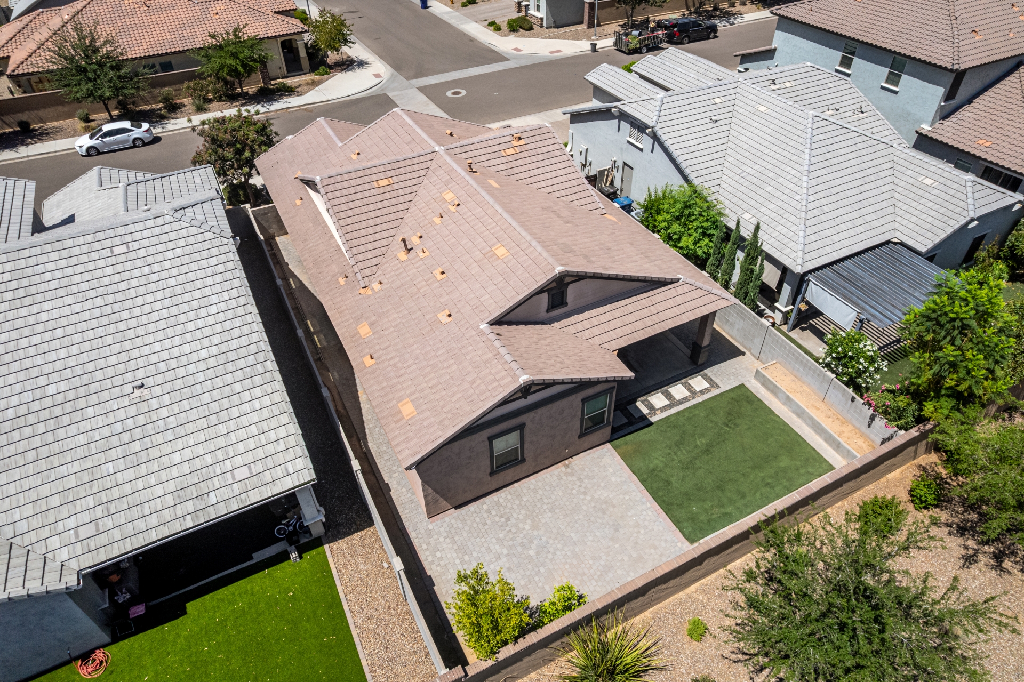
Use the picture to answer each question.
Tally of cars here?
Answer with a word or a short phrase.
2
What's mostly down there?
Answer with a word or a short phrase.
buildings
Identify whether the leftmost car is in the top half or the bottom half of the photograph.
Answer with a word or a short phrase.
top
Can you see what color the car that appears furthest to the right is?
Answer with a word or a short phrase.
black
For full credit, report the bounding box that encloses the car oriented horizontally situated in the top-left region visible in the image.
[74,120,150,156]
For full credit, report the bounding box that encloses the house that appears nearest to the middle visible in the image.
[254,105,745,518]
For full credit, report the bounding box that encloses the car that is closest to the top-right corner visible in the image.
[658,13,720,44]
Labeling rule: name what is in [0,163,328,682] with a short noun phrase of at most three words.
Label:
house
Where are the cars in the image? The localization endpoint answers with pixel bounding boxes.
[74,120,150,156]
[658,13,720,44]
